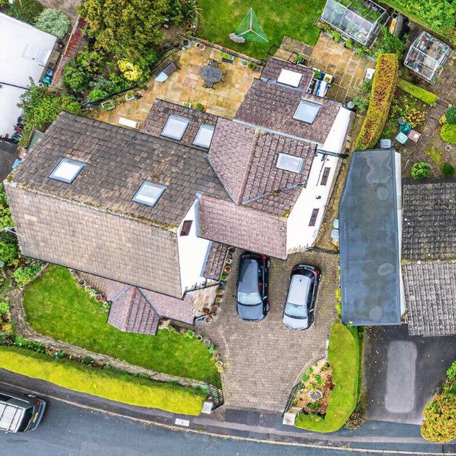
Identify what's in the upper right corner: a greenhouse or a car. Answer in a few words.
greenhouse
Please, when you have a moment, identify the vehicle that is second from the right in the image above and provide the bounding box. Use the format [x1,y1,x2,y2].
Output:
[233,252,273,321]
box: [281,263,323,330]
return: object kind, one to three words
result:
car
